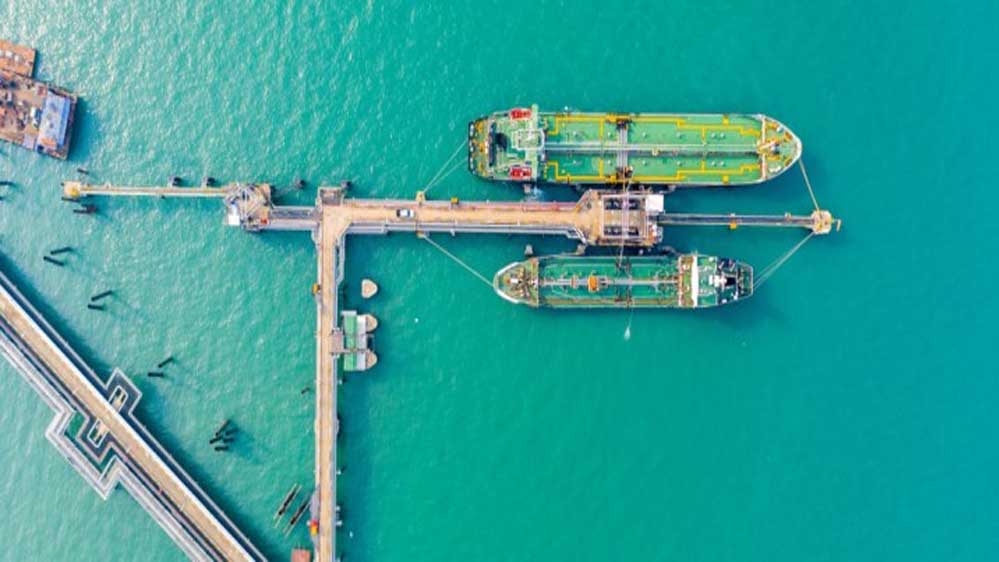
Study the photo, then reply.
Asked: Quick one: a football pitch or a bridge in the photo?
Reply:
bridge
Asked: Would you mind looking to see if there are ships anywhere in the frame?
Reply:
Yes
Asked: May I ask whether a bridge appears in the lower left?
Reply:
Yes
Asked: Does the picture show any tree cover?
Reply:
No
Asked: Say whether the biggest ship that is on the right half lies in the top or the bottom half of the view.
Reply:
top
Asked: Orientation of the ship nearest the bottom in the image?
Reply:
horizontally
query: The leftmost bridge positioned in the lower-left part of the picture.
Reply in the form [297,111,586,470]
[0,271,271,562]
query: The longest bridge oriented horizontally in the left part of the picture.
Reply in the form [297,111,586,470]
[80,183,229,196]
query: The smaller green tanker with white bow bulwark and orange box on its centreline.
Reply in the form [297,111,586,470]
[493,255,754,307]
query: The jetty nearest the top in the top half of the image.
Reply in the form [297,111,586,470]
[355,200,590,246]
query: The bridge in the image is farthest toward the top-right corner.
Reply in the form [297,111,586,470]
[655,212,814,229]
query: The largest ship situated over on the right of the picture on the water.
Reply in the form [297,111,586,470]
[470,104,805,189]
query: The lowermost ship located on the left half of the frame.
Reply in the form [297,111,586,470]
[0,66,81,160]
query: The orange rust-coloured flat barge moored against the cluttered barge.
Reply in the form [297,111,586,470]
[0,41,37,78]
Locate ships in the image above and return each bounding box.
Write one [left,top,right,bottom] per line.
[493,255,754,307]
[0,41,37,78]
[0,66,81,160]
[470,104,805,189]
